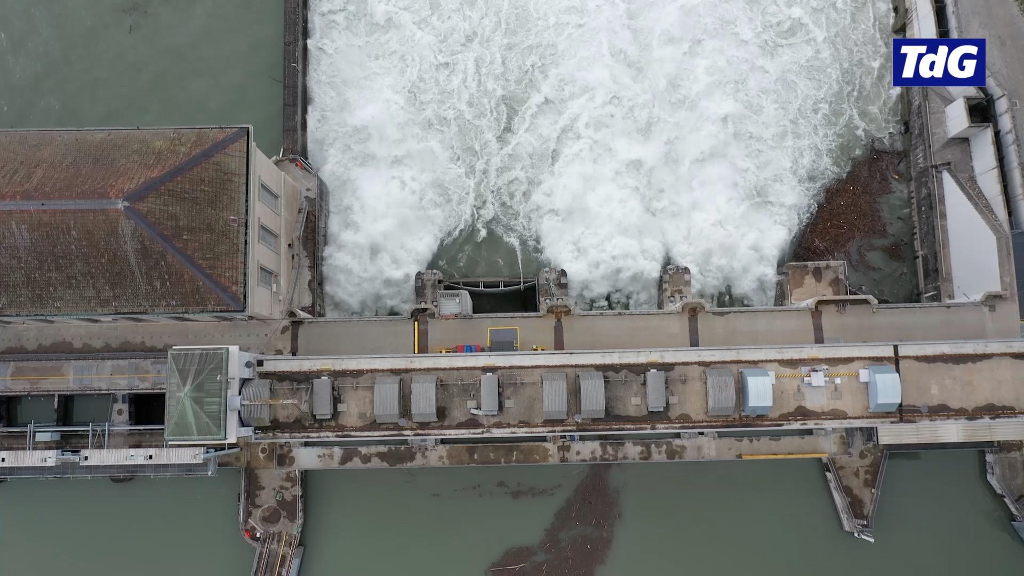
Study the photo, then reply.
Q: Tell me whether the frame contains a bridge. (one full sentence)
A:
Yes, a bridge appears in the view.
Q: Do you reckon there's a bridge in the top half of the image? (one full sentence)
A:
No, I see no bridge in the top half of the image.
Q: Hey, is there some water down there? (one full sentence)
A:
Yes, there's water in this view.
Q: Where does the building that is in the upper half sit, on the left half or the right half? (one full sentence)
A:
The building that is in the upper half appears in the left half of the scene.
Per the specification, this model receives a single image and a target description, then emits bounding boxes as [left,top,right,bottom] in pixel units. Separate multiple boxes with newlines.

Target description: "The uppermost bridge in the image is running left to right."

[253,338,1024,442]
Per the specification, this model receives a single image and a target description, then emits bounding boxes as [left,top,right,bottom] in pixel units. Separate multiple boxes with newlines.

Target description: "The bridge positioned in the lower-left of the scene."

[248,532,303,576]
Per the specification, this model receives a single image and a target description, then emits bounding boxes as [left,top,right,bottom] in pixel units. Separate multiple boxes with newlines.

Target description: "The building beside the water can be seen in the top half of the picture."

[0,127,298,326]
